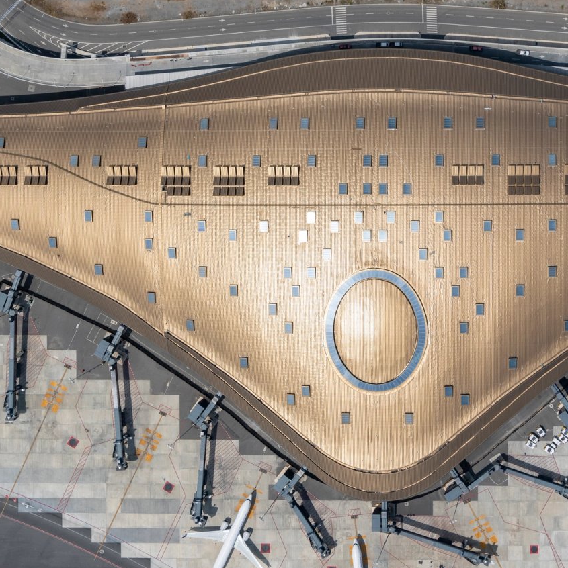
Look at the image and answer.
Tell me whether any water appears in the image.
No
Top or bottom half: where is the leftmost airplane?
bottom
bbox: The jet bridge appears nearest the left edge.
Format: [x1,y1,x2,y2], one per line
[0,270,28,425]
